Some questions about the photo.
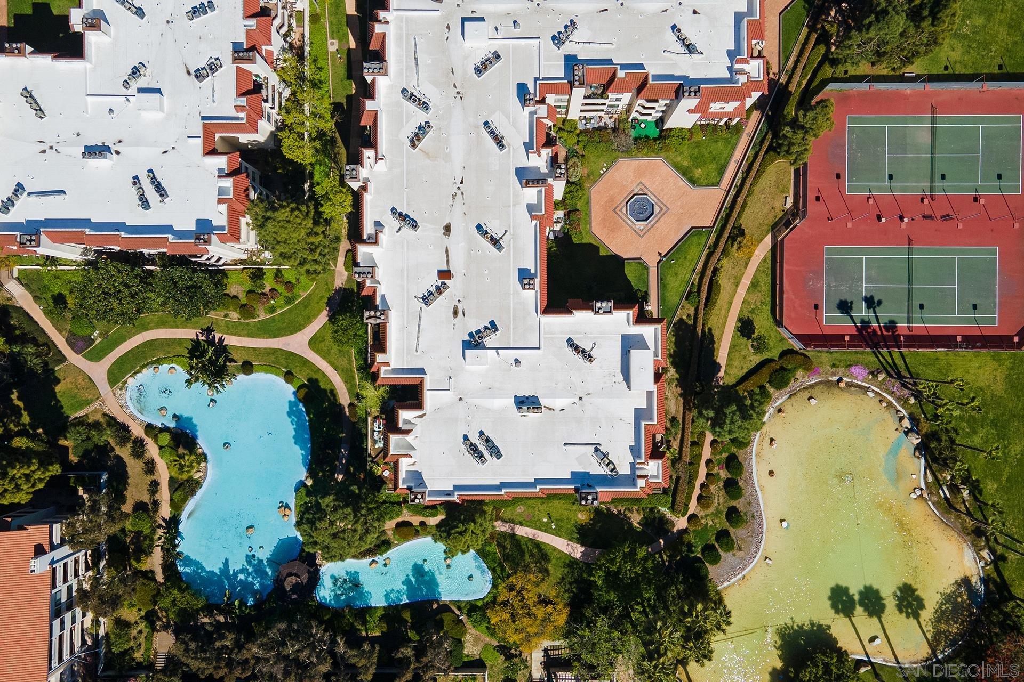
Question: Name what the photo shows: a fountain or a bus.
fountain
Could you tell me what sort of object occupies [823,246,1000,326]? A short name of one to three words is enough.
tennis court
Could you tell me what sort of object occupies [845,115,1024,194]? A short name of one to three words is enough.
tennis court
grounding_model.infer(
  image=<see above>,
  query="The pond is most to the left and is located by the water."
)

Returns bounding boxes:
[126,364,311,606]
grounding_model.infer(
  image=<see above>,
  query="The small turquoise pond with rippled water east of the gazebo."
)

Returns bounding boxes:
[315,537,492,609]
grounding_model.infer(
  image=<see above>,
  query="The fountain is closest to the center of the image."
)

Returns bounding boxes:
[628,194,655,222]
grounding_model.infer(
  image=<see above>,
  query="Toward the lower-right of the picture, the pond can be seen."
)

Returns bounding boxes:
[673,379,985,682]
